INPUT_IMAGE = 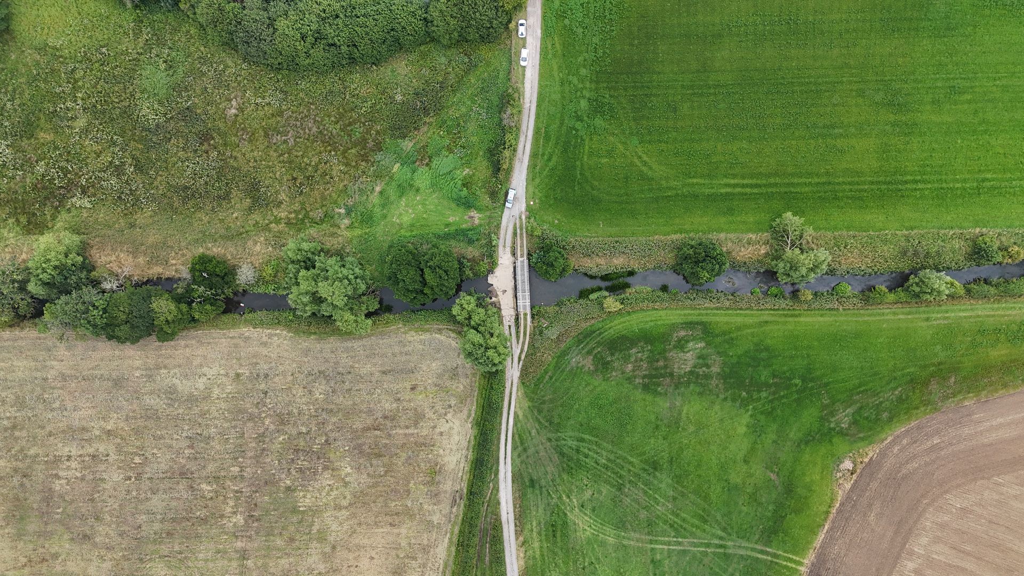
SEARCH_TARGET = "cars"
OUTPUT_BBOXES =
[520,48,529,67]
[518,19,526,38]
[505,187,517,209]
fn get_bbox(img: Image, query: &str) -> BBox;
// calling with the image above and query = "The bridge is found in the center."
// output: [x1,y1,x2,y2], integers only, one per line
[516,257,531,313]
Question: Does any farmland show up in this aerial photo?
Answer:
Yes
